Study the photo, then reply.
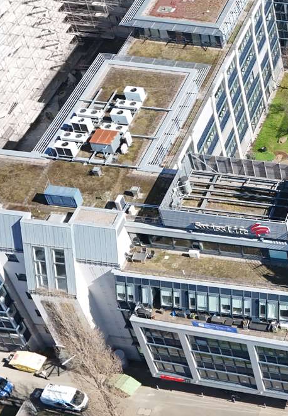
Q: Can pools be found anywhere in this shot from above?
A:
No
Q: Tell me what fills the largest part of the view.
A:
buildings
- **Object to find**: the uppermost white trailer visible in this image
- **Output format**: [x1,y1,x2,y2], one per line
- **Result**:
[4,354,54,378]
